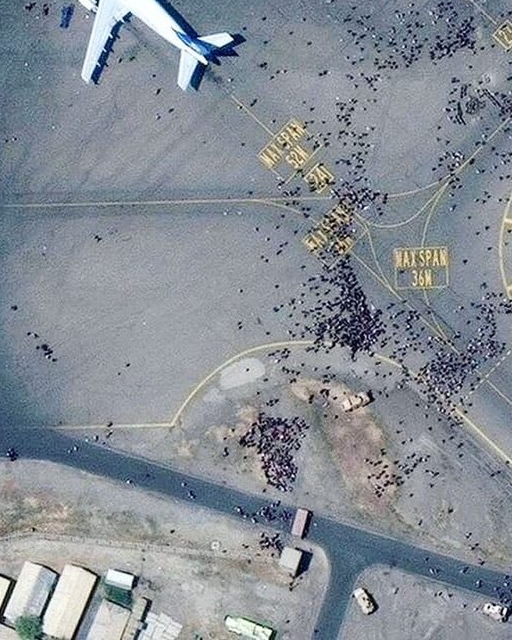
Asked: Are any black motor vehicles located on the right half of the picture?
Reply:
No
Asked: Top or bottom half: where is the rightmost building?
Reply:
bottom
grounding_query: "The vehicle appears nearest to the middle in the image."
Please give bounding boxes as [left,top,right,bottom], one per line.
[340,391,372,412]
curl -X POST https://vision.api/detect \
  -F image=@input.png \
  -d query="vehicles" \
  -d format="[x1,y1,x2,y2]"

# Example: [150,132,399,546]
[225,615,273,640]
[340,391,372,412]
[292,508,308,538]
[483,604,509,620]
[355,587,374,615]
